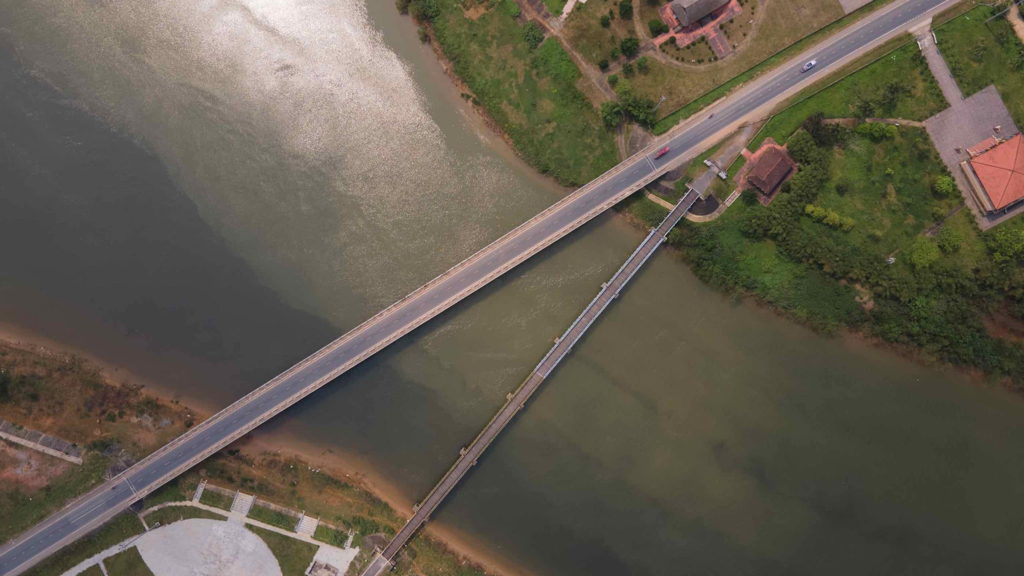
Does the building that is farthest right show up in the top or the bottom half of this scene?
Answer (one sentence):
It is in the top half that the building that is farthest right appears.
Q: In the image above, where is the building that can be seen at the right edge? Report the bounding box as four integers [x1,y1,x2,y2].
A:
[956,133,1024,211]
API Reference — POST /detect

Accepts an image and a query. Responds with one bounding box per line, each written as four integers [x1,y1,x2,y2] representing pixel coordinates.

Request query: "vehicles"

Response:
[800,61,816,72]
[654,147,670,158]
